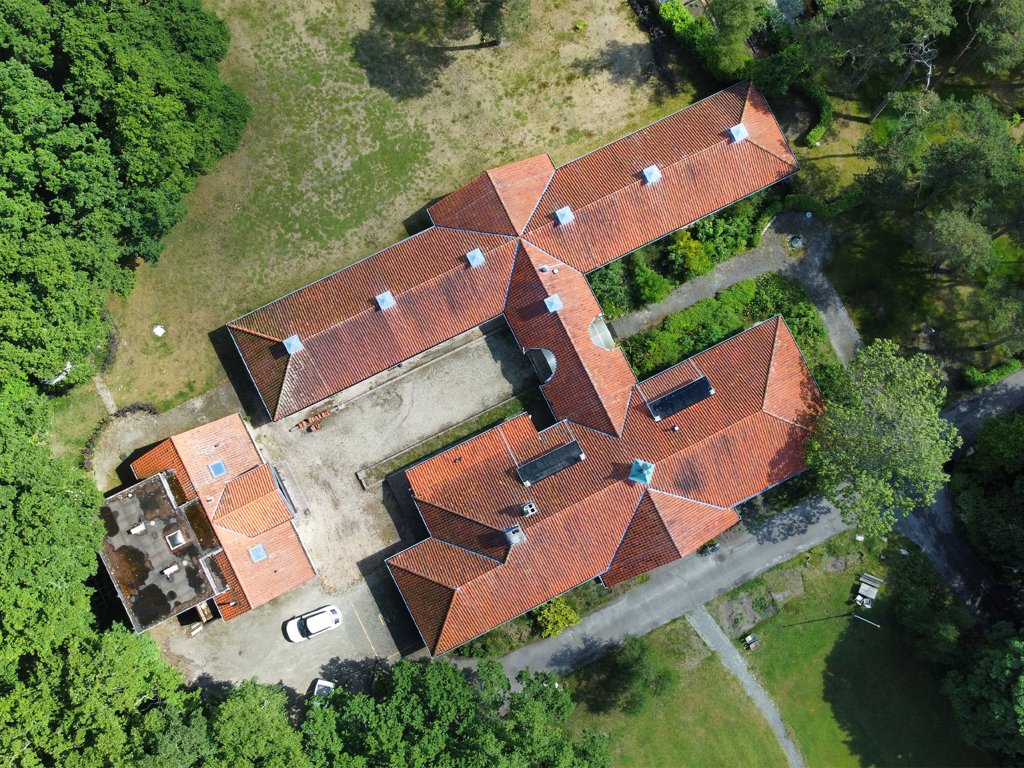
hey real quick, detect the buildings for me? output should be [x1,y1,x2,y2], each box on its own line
[84,411,318,635]
[226,77,844,658]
